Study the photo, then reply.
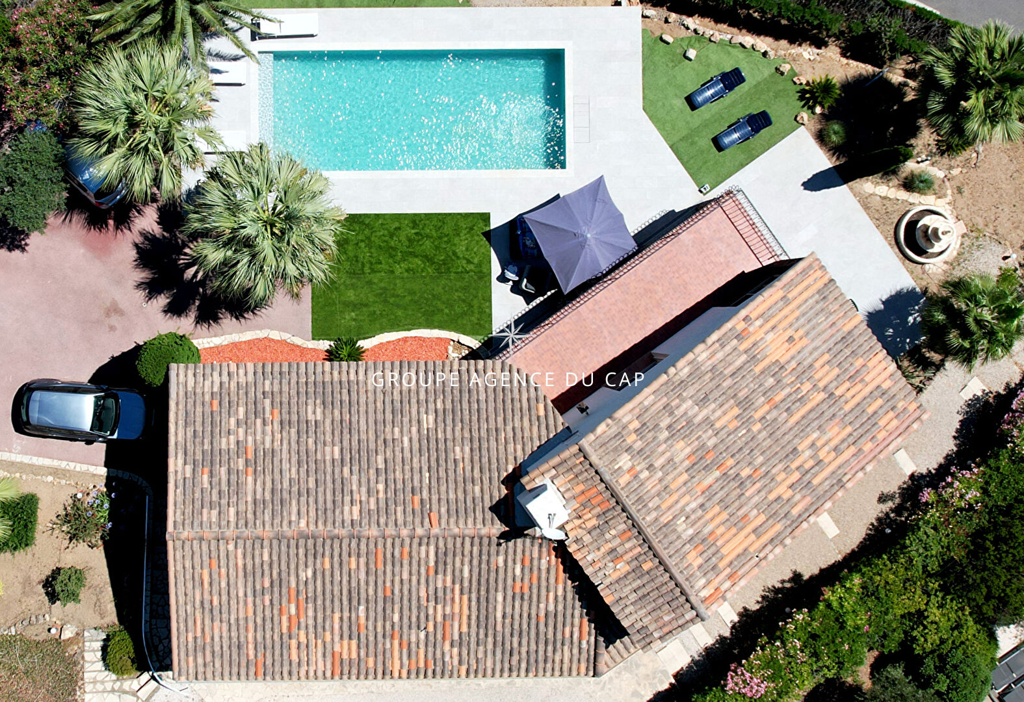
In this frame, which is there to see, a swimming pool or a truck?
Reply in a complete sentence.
The image shows a swimming pool.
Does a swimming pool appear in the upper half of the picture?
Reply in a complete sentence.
Yes, a swimming pool is visible in the upper half of the picture.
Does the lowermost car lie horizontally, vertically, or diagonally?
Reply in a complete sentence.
I'd say the lowermost car is aligned horizontally in the picture.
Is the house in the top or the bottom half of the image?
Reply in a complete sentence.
The bottom half of the photo is where the house is.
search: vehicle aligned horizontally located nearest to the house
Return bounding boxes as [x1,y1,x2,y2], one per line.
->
[14,378,155,447]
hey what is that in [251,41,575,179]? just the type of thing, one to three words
swimming pool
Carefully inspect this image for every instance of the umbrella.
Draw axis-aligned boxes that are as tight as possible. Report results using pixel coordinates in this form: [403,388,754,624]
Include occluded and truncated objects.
[523,176,636,294]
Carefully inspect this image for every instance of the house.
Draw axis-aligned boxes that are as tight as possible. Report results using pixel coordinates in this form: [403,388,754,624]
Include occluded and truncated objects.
[163,252,932,685]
